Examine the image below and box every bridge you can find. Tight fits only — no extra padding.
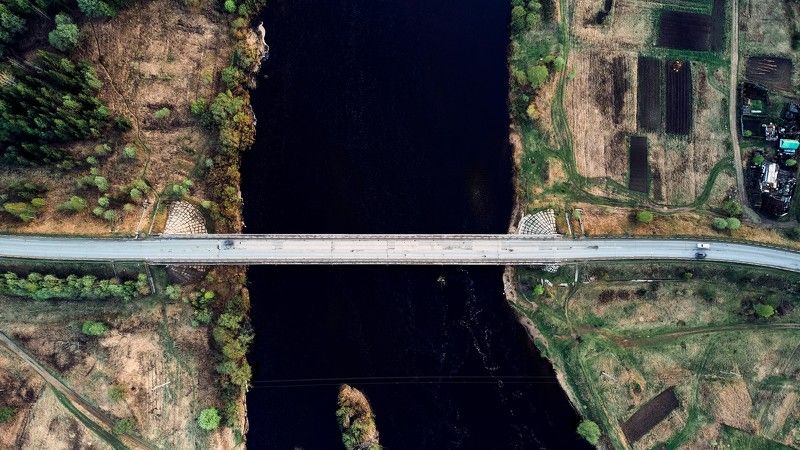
[152,234,571,266]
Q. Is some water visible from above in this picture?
Yes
